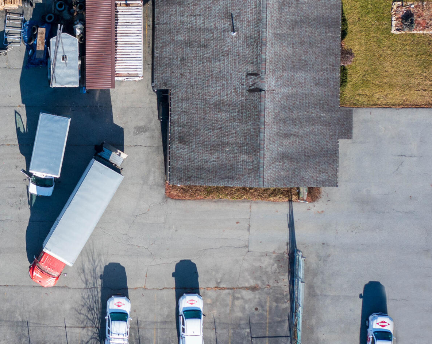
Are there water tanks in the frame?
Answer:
No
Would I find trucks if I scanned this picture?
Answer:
Yes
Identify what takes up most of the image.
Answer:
paved ground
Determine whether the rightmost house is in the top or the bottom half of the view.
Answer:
top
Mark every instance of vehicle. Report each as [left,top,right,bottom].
[362,312,398,344]
[26,141,130,291]
[20,112,71,200]
[103,293,134,344]
[175,291,207,344]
